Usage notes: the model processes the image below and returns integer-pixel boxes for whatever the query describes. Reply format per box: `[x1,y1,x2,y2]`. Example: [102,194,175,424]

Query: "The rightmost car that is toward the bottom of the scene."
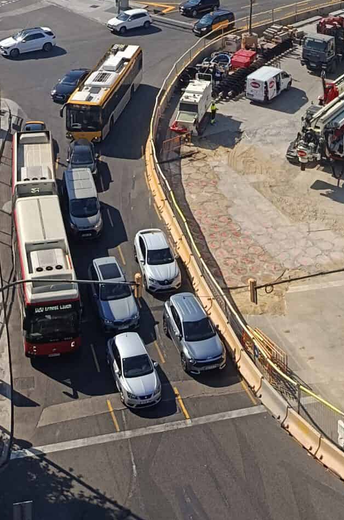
[162,293,227,379]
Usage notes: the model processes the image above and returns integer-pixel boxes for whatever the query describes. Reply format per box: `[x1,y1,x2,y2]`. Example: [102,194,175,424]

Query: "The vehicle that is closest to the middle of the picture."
[135,230,181,294]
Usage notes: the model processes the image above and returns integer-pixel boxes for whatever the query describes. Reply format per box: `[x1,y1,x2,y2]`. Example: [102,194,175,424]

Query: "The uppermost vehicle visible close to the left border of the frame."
[1,28,55,57]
